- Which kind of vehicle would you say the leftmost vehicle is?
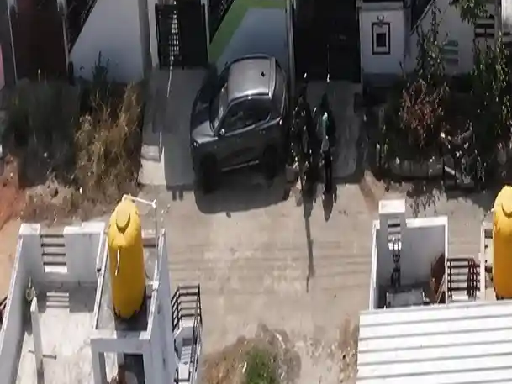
car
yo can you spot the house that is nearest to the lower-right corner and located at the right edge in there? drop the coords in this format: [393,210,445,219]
[351,208,512,384]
